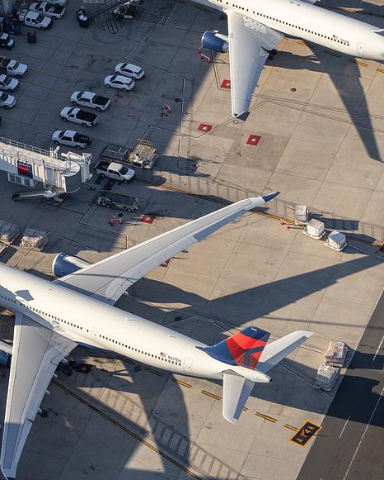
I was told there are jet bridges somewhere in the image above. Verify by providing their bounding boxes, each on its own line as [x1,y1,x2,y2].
[83,0,152,28]
[0,136,102,215]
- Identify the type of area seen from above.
airport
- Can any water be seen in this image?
No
